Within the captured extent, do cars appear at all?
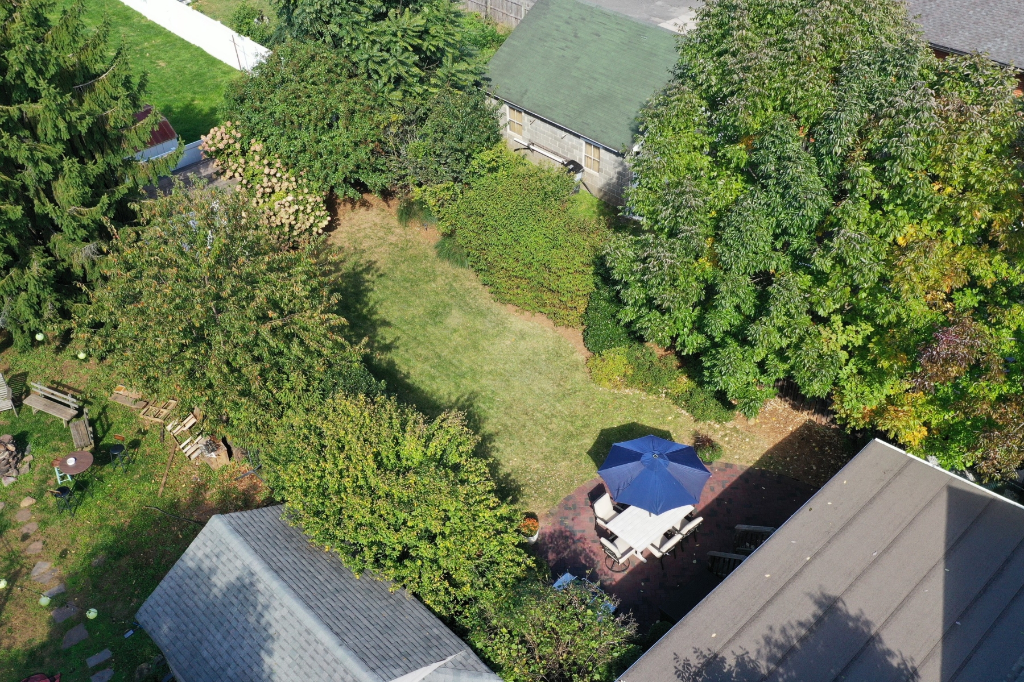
No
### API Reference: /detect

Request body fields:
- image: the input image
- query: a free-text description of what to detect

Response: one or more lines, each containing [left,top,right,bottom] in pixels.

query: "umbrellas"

[598,438,712,519]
